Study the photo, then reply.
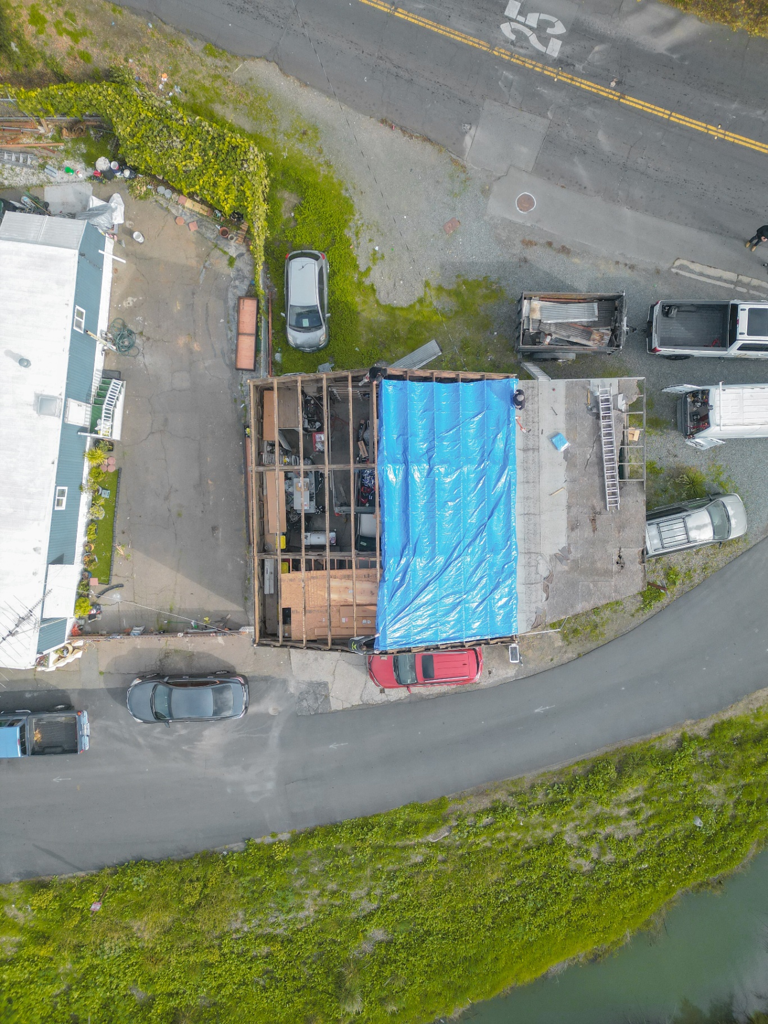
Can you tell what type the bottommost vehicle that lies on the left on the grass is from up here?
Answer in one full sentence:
It turns out the bottommost vehicle that lies on the left on the grass is a car.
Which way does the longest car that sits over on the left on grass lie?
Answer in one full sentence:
In this picture, the longest car that sits over on the left on grass lies up and down.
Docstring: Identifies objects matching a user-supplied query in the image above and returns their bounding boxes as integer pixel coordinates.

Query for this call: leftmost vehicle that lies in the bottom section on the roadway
[0,700,90,757]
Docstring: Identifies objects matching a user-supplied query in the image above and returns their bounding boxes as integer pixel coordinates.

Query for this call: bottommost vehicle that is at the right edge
[647,494,749,557]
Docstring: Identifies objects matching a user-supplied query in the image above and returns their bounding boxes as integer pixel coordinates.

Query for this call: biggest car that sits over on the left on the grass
[279,250,331,353]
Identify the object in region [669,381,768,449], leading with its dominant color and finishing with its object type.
white van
